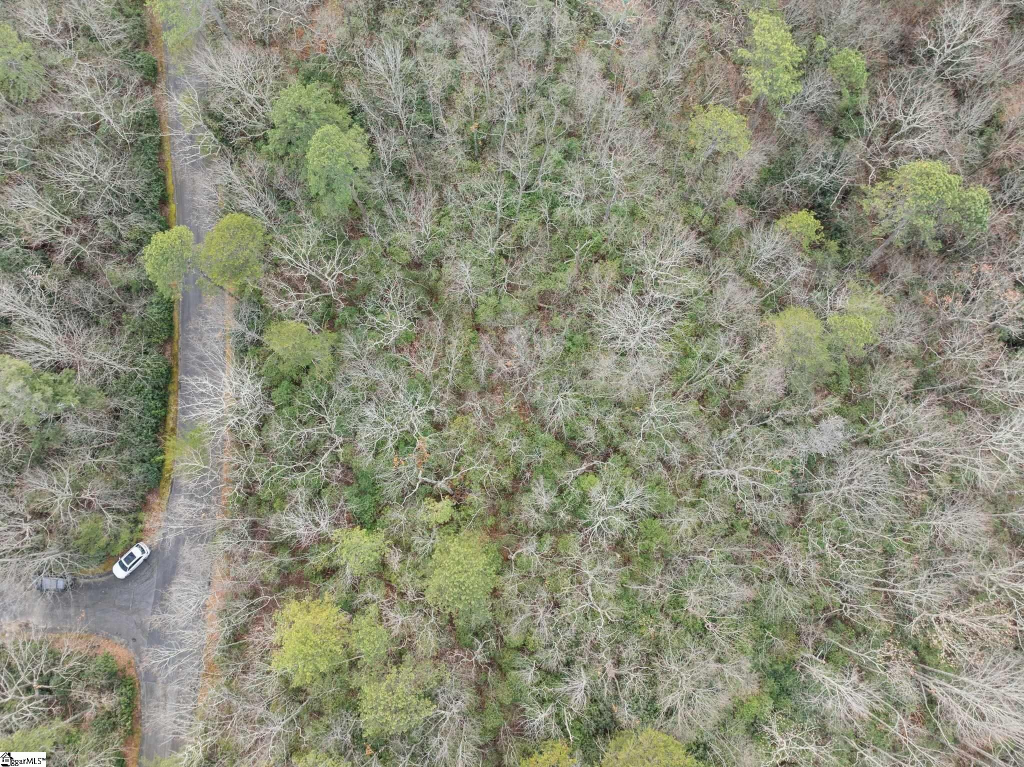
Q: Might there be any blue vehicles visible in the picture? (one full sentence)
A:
No, there is no blue vehicle in the image.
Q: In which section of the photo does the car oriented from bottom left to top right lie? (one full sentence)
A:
The car oriented from bottom left to top right is located in the bottom left region of the scene.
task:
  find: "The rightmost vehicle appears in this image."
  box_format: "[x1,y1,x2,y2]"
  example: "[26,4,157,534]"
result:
[114,543,151,577]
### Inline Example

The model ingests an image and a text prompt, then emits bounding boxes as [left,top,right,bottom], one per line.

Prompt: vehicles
[114,543,151,577]
[35,574,74,594]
